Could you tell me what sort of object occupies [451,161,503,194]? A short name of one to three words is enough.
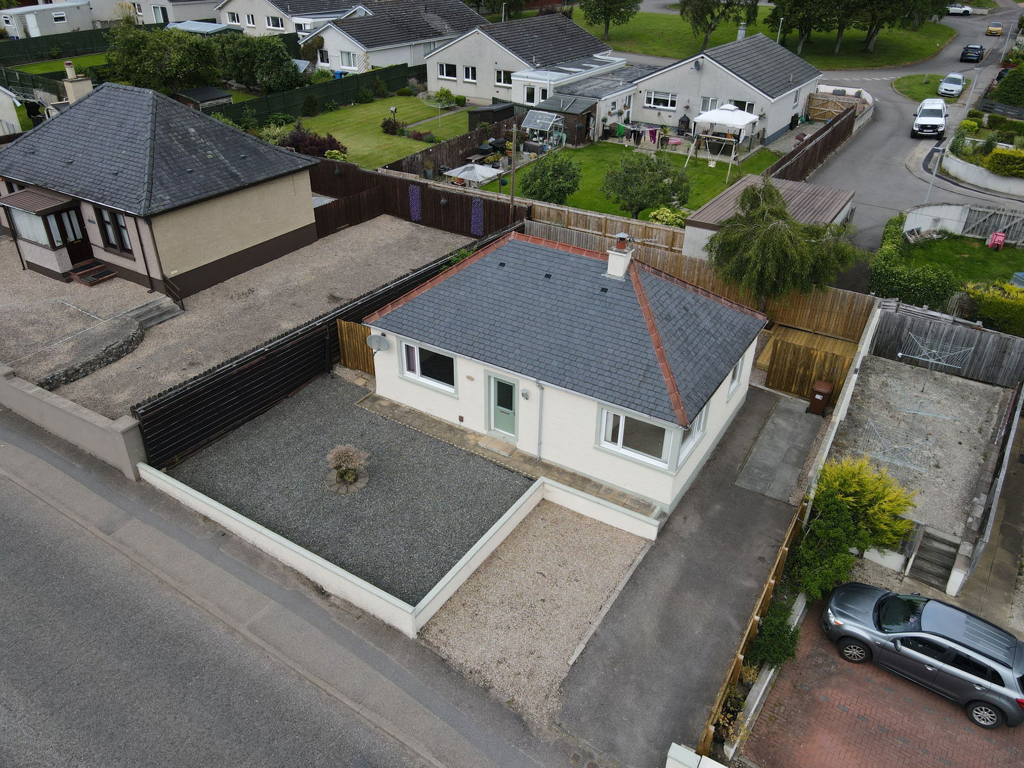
gazebo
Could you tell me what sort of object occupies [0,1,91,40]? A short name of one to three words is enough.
shed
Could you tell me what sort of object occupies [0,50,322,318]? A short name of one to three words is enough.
house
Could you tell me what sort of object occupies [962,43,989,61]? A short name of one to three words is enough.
car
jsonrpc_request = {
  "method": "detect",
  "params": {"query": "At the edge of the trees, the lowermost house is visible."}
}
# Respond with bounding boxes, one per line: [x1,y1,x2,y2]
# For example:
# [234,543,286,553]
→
[358,229,770,514]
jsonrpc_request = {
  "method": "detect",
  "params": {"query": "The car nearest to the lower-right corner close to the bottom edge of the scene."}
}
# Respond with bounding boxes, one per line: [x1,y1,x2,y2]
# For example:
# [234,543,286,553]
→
[823,584,1024,734]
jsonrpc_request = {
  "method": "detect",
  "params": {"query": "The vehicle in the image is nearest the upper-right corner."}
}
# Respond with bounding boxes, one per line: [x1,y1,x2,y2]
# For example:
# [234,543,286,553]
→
[986,19,1007,35]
